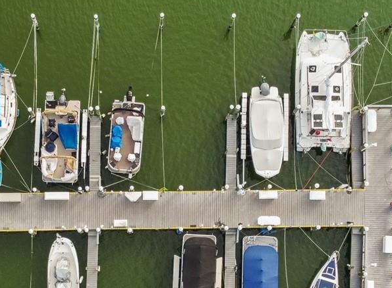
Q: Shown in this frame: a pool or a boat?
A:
boat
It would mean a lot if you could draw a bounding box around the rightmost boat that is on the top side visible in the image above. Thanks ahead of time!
[292,29,369,153]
